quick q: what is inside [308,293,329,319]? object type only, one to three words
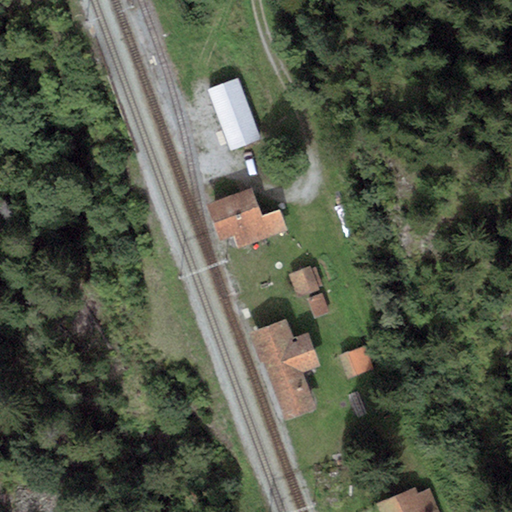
shed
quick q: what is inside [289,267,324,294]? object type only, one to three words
barn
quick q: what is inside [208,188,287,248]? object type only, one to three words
house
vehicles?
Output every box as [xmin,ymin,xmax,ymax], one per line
[245,149,258,176]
